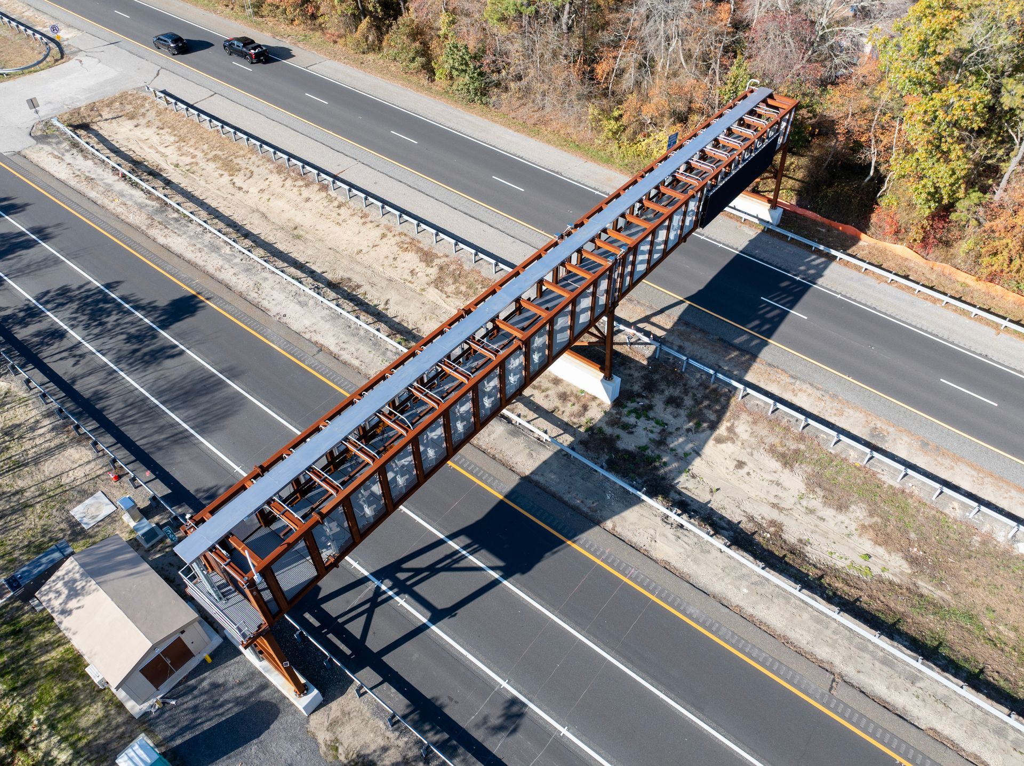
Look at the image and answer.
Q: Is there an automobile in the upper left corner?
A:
Yes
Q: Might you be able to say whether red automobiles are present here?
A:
No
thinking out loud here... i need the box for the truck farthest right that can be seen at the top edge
[220,34,270,63]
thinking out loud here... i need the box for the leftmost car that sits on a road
[152,29,190,54]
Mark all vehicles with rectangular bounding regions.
[220,34,270,63]
[152,29,190,54]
